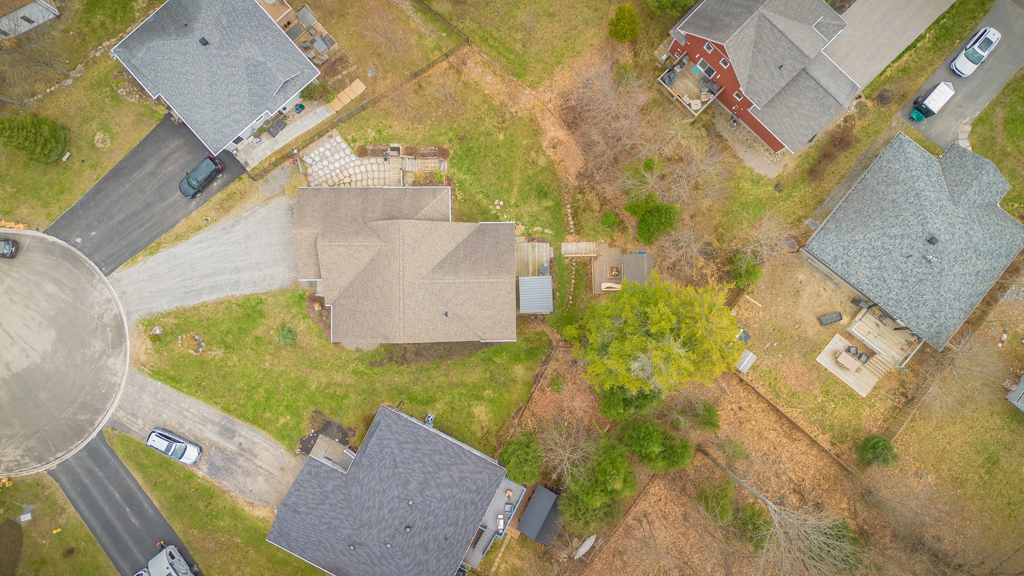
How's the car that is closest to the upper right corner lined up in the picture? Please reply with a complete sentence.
Seen from above, the car that is closest to the upper right corner lies on a diagonal.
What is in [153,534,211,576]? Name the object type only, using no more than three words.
vehicle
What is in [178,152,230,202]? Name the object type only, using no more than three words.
car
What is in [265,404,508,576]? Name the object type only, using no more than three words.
house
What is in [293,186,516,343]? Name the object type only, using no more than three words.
house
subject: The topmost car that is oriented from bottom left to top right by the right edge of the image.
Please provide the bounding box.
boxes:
[948,23,1005,81]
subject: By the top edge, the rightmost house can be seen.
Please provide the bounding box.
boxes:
[667,0,861,154]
